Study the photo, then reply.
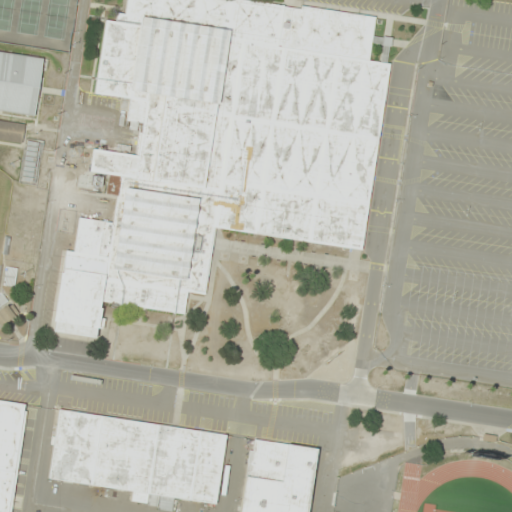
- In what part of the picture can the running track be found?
bottom right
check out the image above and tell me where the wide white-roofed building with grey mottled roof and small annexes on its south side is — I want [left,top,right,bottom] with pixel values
[49,410,228,512]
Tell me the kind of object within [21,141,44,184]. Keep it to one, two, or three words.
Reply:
shed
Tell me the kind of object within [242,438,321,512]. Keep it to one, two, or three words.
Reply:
building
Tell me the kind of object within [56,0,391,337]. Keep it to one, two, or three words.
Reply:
building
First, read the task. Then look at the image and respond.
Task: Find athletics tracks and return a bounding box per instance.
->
[398,460,512,512]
